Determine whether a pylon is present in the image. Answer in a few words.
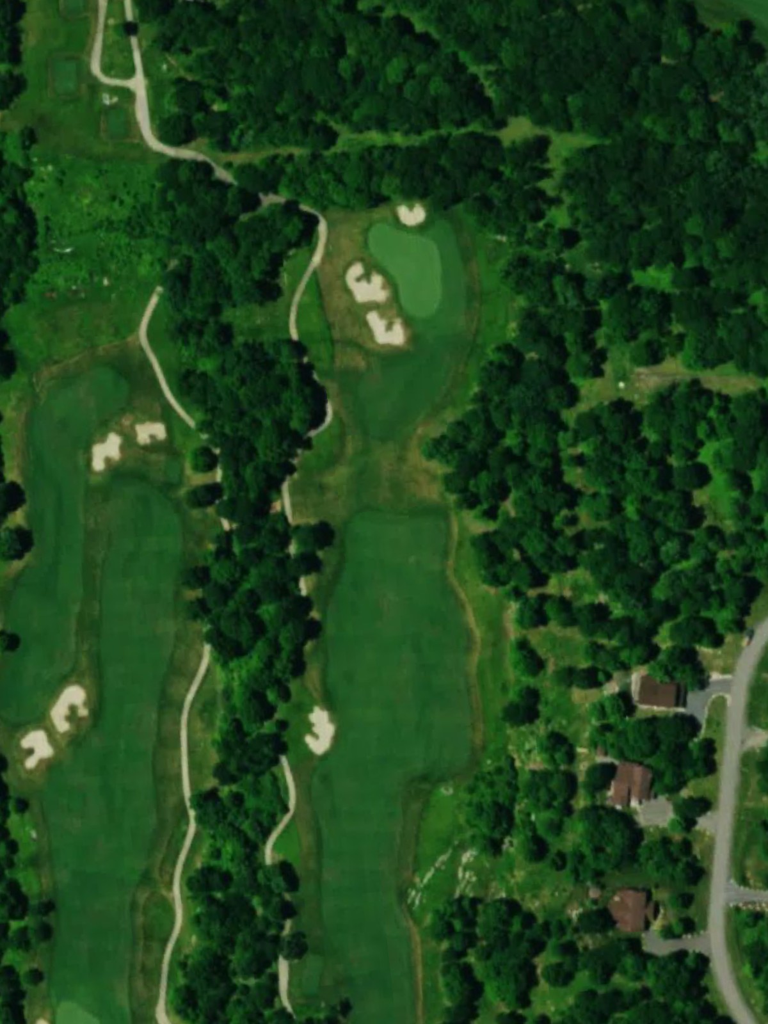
No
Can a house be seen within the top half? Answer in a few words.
No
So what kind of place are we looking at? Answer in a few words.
golf course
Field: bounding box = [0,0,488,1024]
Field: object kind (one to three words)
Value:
golf course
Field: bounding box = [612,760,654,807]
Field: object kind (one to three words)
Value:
house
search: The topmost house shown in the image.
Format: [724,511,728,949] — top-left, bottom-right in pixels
[632,671,682,708]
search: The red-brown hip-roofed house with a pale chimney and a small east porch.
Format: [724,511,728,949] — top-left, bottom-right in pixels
[608,890,654,932]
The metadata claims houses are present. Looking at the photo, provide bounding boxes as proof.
[608,890,654,932]
[632,671,682,708]
[612,760,654,807]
